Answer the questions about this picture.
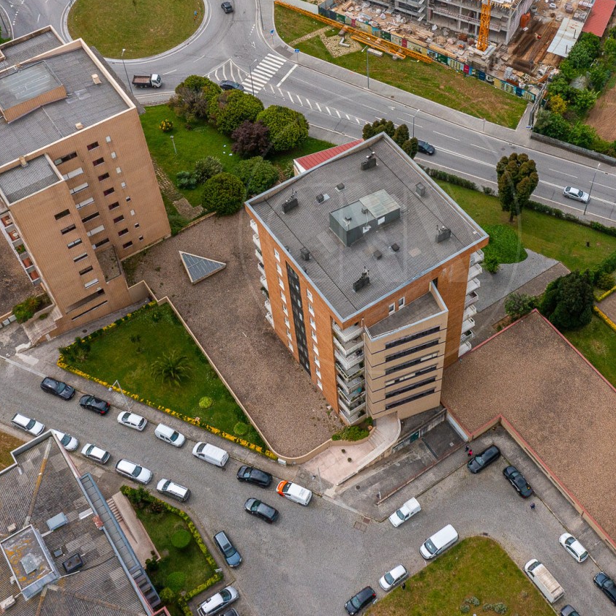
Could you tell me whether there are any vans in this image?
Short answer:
Yes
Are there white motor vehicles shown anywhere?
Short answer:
Yes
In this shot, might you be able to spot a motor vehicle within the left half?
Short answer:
Yes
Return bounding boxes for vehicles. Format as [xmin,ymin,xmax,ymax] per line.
[464,441,504,477]
[209,528,245,570]
[219,1,235,17]
[77,442,113,466]
[377,562,411,597]
[129,71,162,88]
[37,377,78,402]
[590,571,616,608]
[520,558,569,607]
[153,479,192,504]
[114,413,150,435]
[189,440,231,470]
[416,520,462,563]
[194,585,241,616]
[555,531,593,567]
[387,490,426,530]
[216,78,245,91]
[51,423,82,451]
[561,185,592,203]
[112,458,154,485]
[499,463,537,502]
[149,419,189,449]
[273,480,314,507]
[342,583,381,616]
[413,137,439,155]
[234,465,275,490]
[77,394,114,417]
[7,411,50,438]
[241,498,280,525]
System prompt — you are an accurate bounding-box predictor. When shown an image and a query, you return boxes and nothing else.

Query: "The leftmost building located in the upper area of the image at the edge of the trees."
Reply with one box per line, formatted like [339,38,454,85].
[0,26,171,325]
